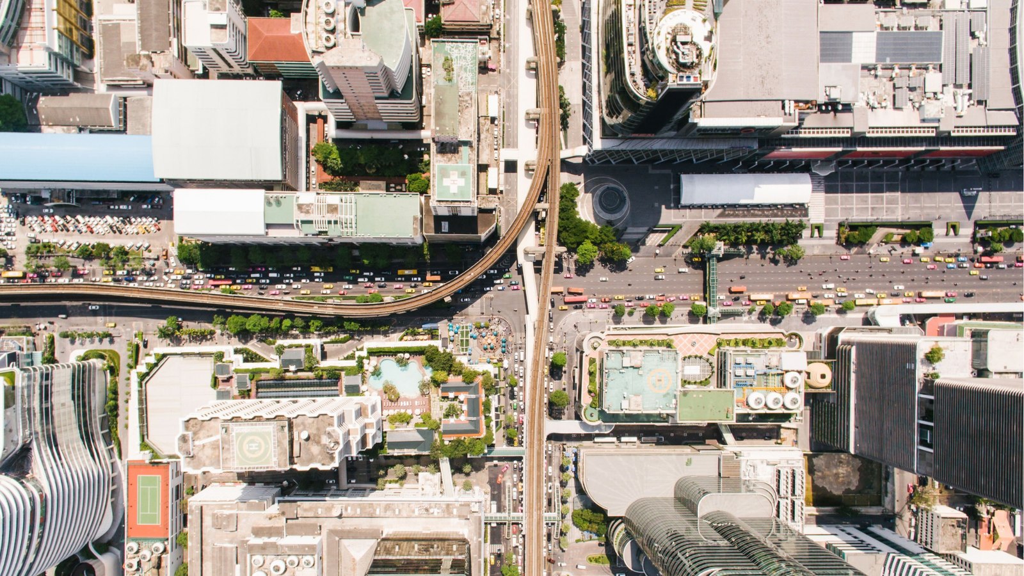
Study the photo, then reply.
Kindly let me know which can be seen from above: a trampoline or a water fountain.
water fountain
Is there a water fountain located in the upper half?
Yes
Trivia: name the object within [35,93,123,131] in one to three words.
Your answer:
building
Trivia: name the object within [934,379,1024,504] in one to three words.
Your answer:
building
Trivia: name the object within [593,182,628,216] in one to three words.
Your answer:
fountain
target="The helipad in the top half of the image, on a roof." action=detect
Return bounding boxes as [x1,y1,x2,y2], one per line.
[437,166,472,202]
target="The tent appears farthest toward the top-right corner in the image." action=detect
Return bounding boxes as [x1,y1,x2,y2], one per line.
[677,174,813,208]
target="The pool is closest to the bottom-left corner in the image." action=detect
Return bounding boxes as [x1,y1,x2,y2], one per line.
[369,359,423,398]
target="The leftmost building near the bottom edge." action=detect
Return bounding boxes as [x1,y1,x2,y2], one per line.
[0,357,113,576]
